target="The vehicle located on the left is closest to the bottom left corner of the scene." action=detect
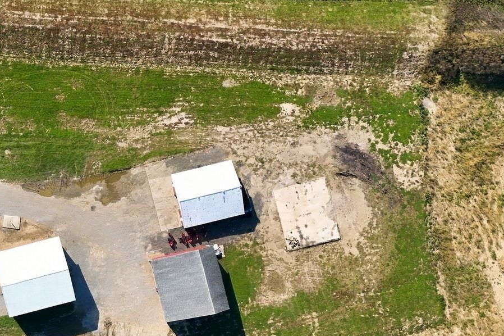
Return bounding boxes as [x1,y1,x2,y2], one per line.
[165,234,178,249]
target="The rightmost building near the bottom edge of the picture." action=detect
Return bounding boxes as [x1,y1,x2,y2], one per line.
[147,244,229,323]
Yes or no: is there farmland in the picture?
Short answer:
Yes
